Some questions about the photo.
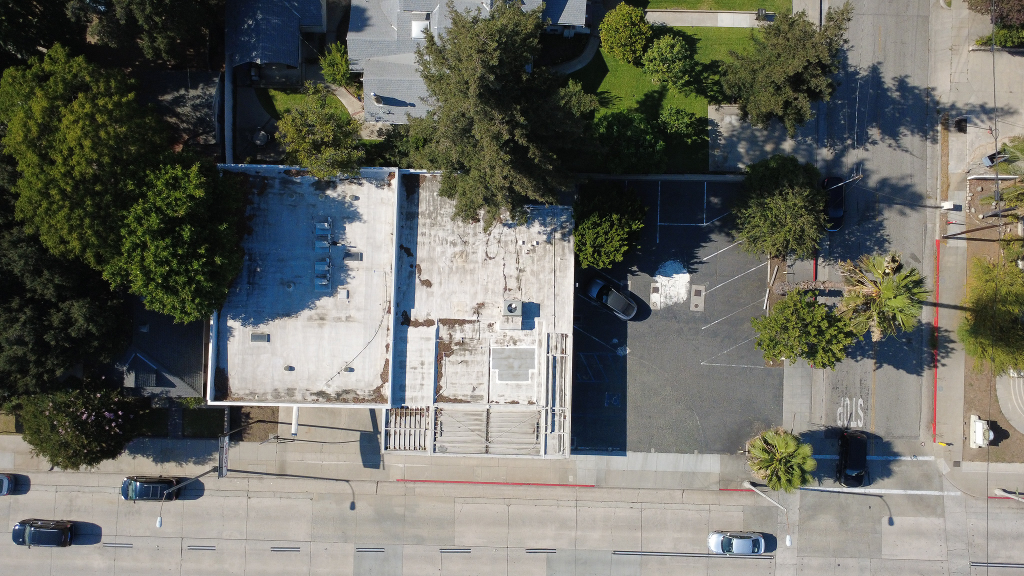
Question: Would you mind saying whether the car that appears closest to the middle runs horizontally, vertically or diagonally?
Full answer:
In this picture, the car that appears closest to the middle is oriented diagonally.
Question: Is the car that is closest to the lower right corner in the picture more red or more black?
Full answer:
In this view, the car that is closest to the lower right corner is black.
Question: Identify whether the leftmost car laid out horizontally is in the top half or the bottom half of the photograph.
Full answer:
The leftmost car laid out horizontally is in the bottom half of the image.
